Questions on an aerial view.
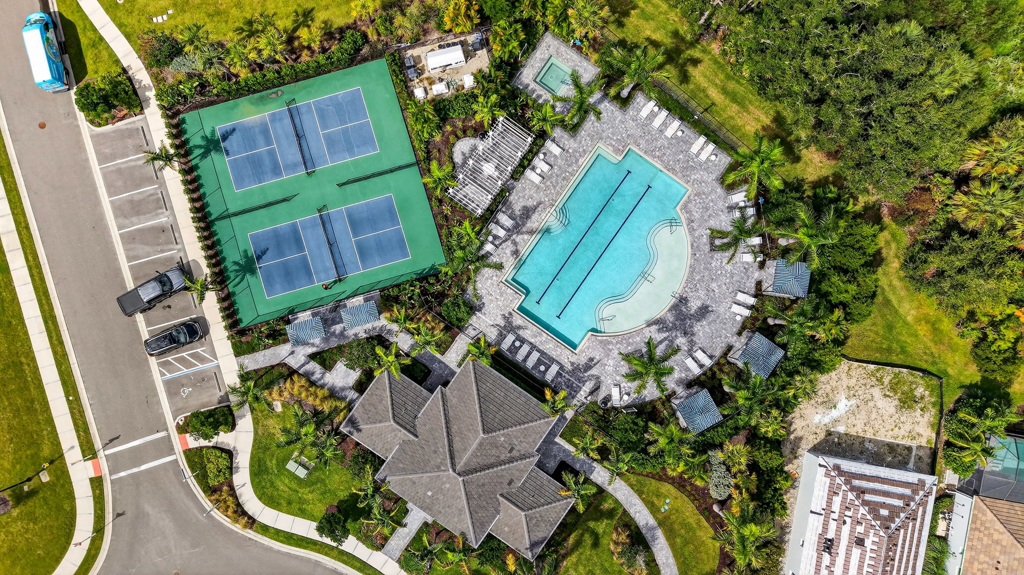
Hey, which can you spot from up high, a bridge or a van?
van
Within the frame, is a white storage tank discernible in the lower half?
No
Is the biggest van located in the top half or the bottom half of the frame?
top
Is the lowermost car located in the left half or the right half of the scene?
left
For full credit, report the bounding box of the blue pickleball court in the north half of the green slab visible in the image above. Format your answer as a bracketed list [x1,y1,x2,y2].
[217,87,379,192]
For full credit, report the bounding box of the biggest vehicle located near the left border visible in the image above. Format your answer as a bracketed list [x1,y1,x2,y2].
[24,12,71,93]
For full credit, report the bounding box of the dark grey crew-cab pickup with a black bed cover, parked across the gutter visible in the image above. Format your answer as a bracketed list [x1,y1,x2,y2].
[116,268,188,316]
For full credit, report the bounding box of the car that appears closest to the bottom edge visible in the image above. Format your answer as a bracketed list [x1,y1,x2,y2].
[143,322,205,360]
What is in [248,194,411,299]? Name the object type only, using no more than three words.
sports court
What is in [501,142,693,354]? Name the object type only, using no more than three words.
swimming pool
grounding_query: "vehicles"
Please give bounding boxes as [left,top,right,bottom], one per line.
[143,322,205,360]
[24,12,71,93]
[116,268,188,316]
